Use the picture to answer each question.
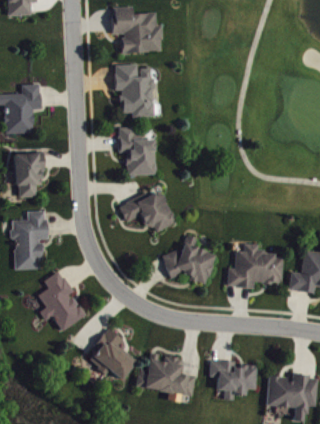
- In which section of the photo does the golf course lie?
top right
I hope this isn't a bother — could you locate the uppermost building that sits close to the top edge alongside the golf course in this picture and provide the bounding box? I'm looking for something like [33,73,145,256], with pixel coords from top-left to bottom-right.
[114,7,164,54]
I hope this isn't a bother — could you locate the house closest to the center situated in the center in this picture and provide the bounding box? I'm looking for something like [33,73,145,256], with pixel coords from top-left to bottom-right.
[120,191,177,234]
